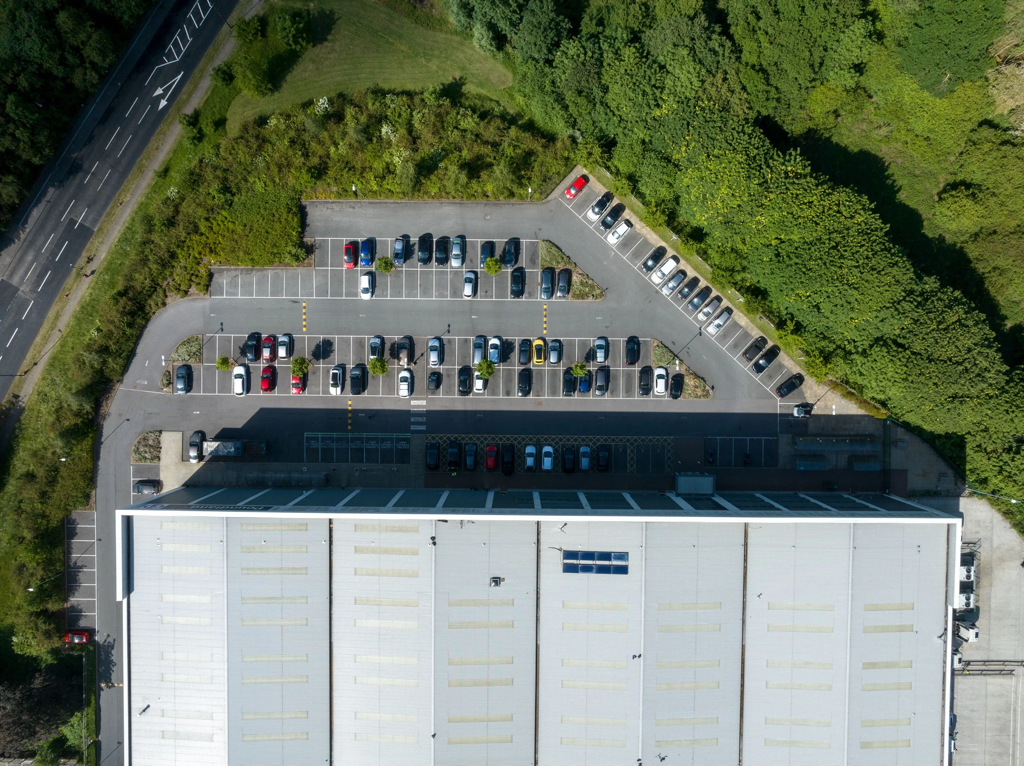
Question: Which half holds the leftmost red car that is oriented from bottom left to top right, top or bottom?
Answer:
top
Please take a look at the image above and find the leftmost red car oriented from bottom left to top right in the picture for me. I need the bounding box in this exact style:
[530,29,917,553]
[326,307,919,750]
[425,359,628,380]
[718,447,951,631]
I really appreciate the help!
[564,174,589,200]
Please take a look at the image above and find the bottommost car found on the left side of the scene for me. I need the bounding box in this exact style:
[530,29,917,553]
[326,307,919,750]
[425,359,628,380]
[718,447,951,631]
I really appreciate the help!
[66,630,91,644]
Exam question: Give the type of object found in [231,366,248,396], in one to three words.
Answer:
car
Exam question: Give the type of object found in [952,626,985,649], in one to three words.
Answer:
truck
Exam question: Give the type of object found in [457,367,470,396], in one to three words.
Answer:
vehicle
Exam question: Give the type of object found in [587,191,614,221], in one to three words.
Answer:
car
